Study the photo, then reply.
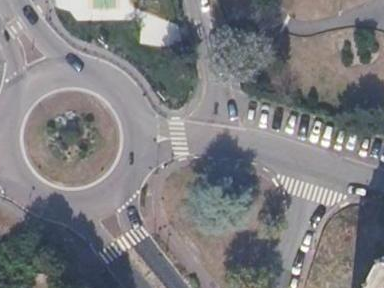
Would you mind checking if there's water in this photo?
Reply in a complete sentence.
No, there is no water in the image.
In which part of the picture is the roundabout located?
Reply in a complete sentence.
The roundabout is in the left part of the image.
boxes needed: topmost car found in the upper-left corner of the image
[23,5,39,26]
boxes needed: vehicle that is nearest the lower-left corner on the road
[128,206,141,227]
